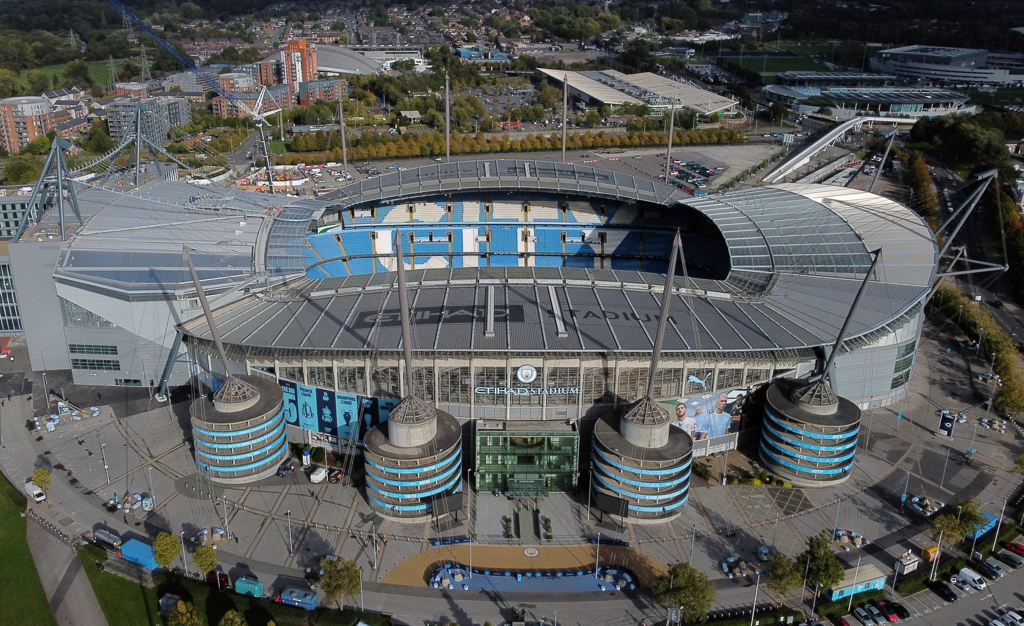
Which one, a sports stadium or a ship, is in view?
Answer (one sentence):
Looking from above, you can make out a sports stadium.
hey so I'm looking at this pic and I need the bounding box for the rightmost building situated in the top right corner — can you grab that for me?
[868,45,1024,85]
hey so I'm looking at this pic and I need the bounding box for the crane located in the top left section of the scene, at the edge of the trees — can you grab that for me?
[110,0,285,180]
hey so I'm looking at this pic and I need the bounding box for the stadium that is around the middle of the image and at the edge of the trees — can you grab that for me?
[53,159,952,472]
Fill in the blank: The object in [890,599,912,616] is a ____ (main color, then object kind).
black car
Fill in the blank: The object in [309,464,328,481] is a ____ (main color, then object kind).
white vehicle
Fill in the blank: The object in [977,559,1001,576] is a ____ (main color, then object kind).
black car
